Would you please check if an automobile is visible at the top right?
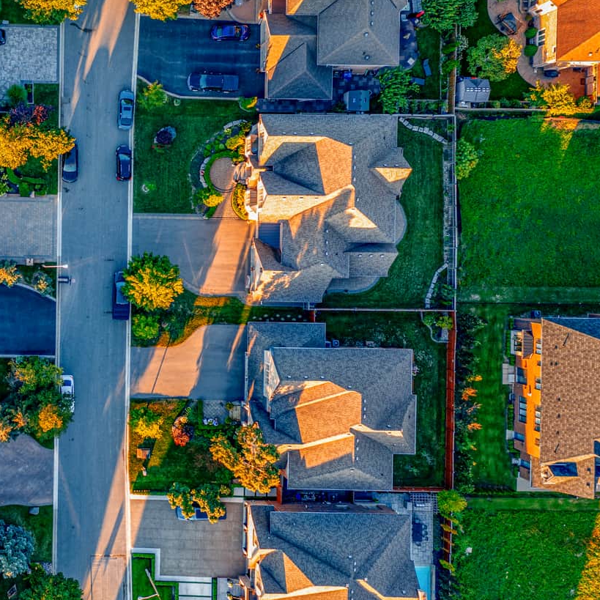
No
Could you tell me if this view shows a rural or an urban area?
urban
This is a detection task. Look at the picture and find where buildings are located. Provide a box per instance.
[519,0,600,109]
[243,499,429,600]
[451,79,495,102]
[246,113,412,303]
[244,322,417,490]
[508,318,600,500]
[341,89,372,112]
[259,0,409,102]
